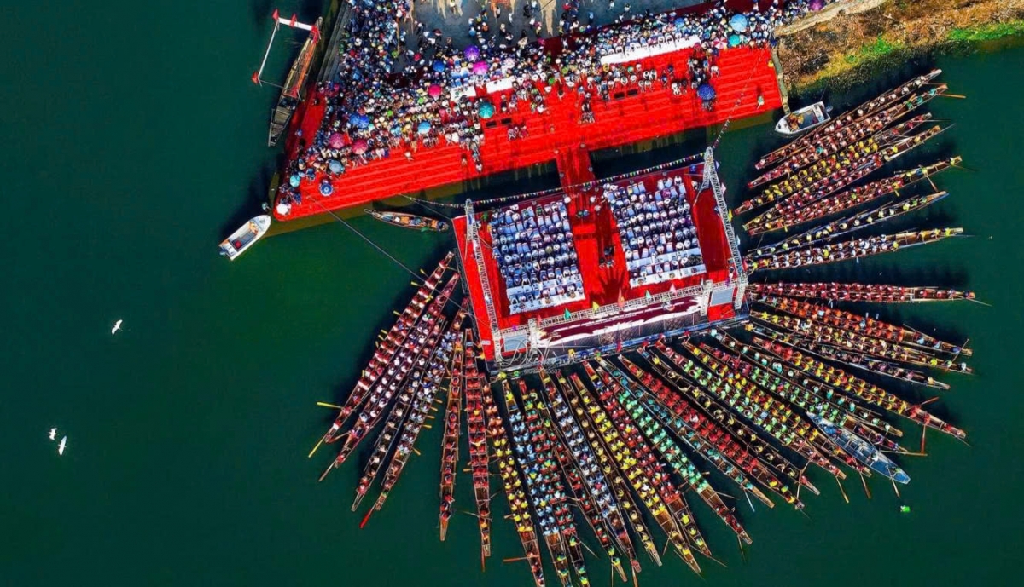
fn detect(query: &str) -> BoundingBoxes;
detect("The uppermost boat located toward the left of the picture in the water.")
[253,8,322,148]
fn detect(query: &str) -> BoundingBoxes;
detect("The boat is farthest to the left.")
[219,217,269,263]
